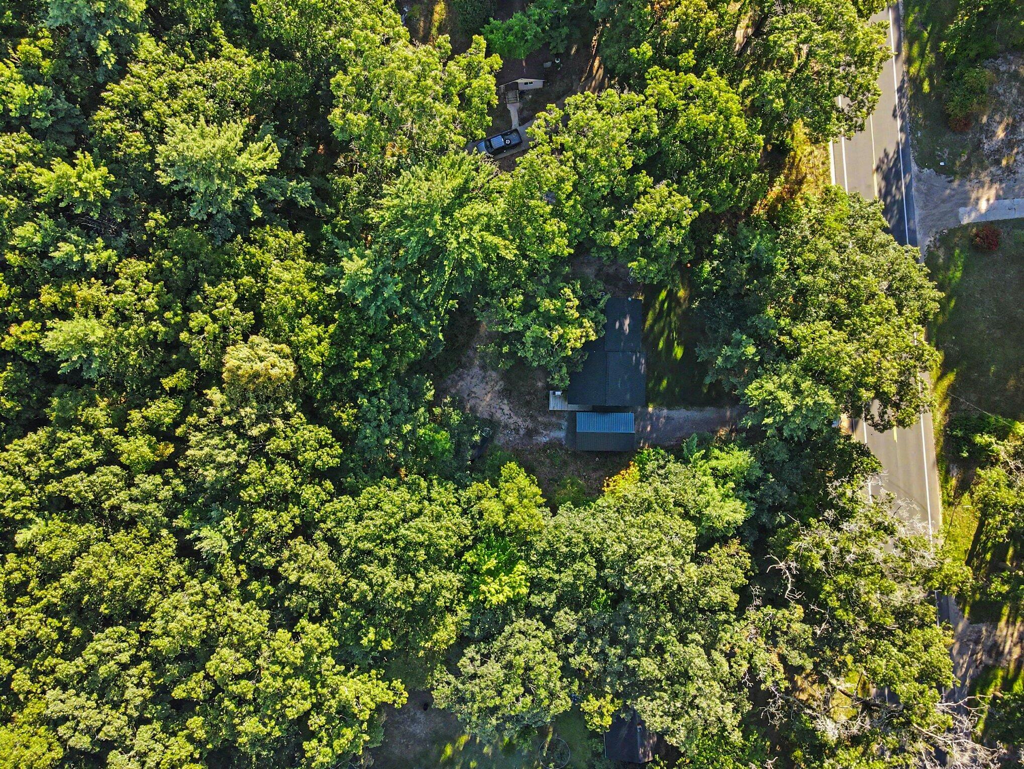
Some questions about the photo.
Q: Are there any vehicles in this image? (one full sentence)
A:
Yes, the frame does contain a vehicle.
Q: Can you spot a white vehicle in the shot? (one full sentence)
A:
No, this view has no white vehicle in it.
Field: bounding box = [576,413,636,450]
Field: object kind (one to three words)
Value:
shed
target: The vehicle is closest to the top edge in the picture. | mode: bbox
[473,129,525,160]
